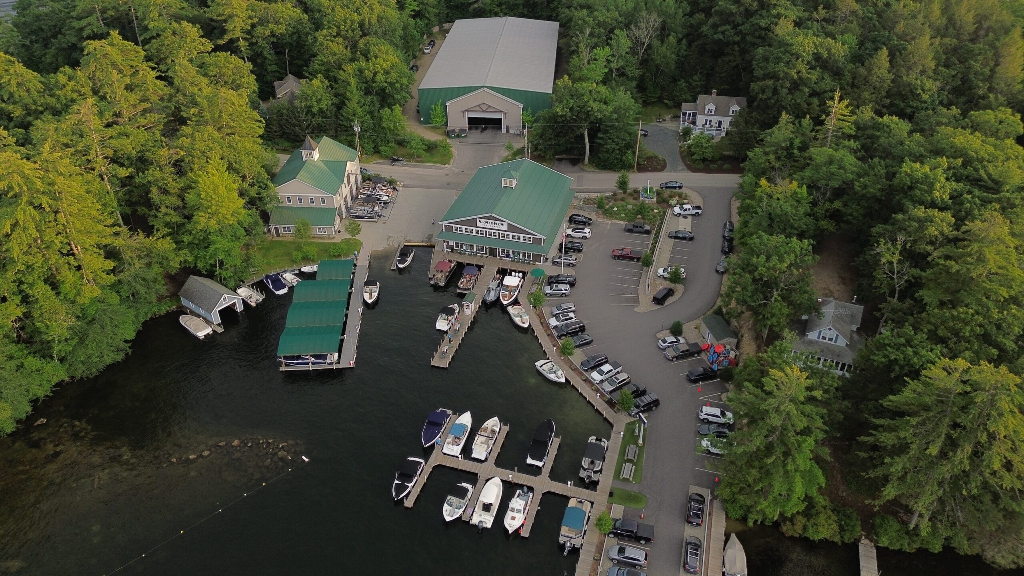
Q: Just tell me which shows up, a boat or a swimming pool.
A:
boat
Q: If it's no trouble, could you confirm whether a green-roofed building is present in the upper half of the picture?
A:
Yes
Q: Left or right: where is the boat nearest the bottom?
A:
right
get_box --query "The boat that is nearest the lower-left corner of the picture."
[179,316,214,341]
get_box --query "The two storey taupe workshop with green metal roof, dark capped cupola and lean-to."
[265,128,361,237]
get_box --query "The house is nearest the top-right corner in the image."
[680,90,746,131]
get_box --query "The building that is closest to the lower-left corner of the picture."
[178,275,244,328]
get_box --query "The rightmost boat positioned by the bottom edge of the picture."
[724,535,749,576]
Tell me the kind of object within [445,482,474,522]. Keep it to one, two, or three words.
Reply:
boat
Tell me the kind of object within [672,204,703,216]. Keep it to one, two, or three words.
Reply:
vehicle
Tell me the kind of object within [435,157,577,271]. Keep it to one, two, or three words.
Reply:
building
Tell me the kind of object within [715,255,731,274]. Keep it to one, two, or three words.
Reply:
car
